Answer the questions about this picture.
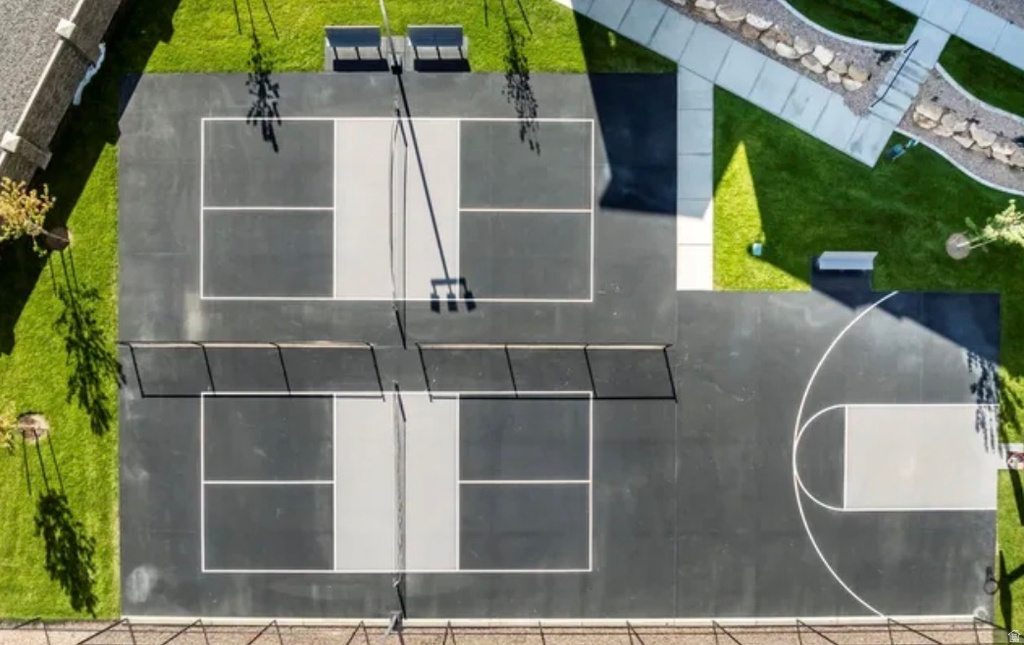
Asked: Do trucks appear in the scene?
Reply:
No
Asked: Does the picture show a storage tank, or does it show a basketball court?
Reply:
basketball court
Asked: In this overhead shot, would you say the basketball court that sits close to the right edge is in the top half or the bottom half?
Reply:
bottom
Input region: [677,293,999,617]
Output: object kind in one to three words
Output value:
basketball court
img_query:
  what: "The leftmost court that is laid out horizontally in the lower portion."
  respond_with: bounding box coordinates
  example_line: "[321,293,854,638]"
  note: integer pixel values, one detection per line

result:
[201,392,592,572]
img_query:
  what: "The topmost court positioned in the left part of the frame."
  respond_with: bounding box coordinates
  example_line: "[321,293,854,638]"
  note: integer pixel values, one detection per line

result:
[200,118,594,302]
